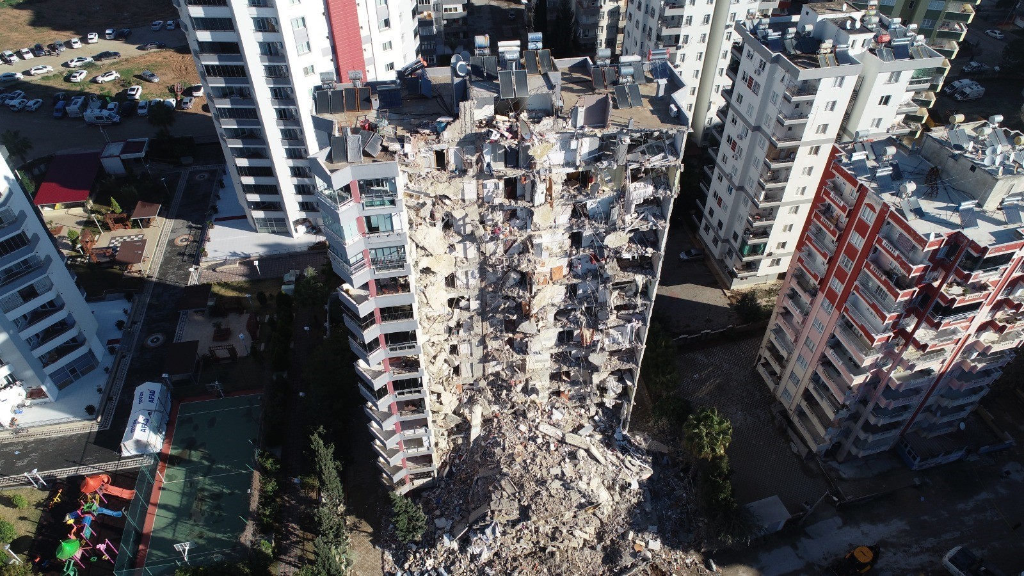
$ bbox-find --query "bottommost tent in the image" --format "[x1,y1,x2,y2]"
[110,372,179,460]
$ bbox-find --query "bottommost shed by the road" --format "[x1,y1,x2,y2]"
[742,496,792,544]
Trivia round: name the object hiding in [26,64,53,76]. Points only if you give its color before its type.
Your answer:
white vehicle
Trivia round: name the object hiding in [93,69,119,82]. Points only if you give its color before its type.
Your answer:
white vehicle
